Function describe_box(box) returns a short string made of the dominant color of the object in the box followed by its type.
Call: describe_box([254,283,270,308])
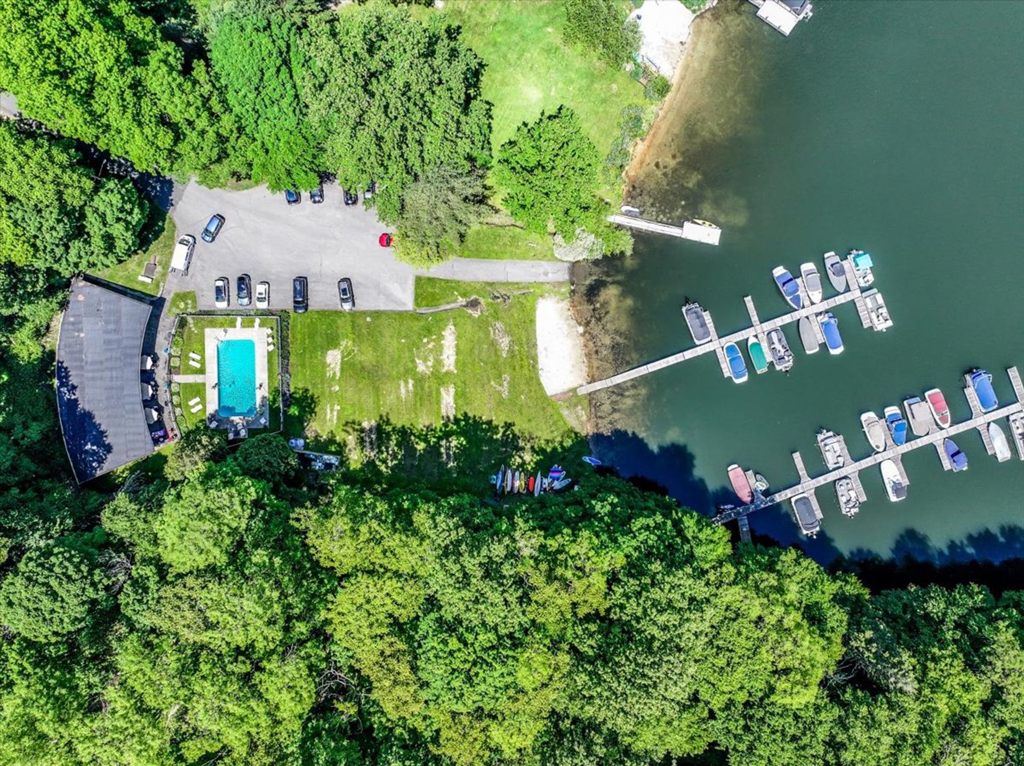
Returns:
white car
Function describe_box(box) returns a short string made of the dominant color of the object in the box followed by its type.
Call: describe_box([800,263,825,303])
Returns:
white boat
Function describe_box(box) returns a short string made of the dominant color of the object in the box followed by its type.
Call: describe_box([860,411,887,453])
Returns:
white boat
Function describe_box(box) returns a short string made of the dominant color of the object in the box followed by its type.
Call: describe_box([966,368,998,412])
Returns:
blue boat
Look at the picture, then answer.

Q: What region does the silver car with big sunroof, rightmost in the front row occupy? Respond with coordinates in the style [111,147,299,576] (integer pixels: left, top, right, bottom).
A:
[337,280,354,310]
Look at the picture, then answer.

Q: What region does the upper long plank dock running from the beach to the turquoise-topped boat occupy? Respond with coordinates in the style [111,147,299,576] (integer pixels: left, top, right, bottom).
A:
[577,258,872,395]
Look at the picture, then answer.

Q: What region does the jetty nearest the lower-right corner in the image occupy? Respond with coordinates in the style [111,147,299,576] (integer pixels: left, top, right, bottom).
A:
[721,366,1024,549]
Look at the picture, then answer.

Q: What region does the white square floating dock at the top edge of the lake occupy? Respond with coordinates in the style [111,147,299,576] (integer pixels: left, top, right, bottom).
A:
[739,0,800,36]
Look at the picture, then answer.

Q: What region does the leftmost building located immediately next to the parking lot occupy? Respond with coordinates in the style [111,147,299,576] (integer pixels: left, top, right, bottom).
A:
[55,278,156,485]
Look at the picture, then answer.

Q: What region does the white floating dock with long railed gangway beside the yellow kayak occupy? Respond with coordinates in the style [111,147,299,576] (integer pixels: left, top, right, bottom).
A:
[607,211,722,245]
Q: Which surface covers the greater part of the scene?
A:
trees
